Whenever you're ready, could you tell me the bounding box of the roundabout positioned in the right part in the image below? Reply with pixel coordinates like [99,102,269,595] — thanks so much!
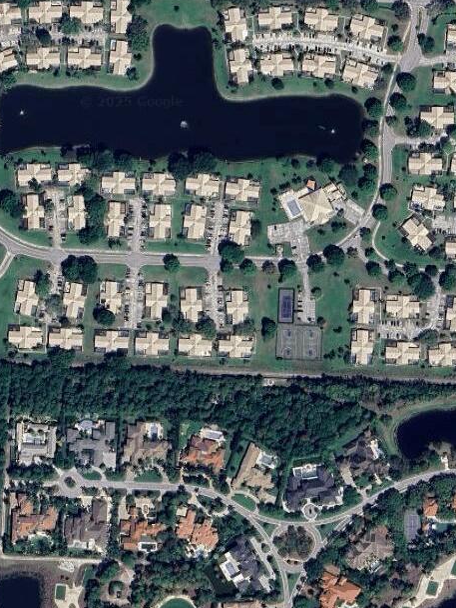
[269,517,321,567]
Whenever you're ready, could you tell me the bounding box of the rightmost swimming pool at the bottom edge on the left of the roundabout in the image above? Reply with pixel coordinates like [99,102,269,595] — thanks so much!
[219,554,244,583]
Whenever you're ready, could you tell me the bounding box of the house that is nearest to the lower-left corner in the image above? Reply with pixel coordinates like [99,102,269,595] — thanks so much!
[10,494,58,547]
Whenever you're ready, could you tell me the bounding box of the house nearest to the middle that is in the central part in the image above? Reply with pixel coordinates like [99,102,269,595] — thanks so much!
[227,291,248,325]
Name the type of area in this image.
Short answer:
residential area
